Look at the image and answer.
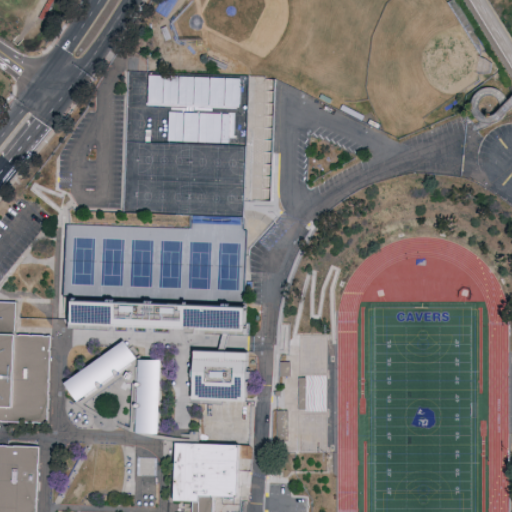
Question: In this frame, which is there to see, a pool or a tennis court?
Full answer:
There is a tennis court in the scene.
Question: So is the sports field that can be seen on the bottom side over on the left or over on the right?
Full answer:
You can find the sports field that can be seen on the bottom side on the right side of the picture.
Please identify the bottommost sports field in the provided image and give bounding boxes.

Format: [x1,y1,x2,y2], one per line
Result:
[358,302,488,512]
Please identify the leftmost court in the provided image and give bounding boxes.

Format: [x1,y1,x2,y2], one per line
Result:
[72,238,96,285]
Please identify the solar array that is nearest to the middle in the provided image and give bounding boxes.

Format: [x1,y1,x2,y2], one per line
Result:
[184,310,238,328]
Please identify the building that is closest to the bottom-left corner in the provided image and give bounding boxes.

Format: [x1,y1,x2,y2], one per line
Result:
[0,446,40,512]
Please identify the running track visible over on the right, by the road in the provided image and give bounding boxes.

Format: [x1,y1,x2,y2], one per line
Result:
[338,236,508,512]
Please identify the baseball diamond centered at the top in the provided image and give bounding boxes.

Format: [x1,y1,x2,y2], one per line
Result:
[176,0,288,58]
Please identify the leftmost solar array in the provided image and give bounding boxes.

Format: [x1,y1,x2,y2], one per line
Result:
[72,306,110,324]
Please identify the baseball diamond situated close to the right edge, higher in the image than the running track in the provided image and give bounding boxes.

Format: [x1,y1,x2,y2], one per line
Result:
[422,28,492,94]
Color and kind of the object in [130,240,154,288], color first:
blue tennis court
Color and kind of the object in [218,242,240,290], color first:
blue tennis court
